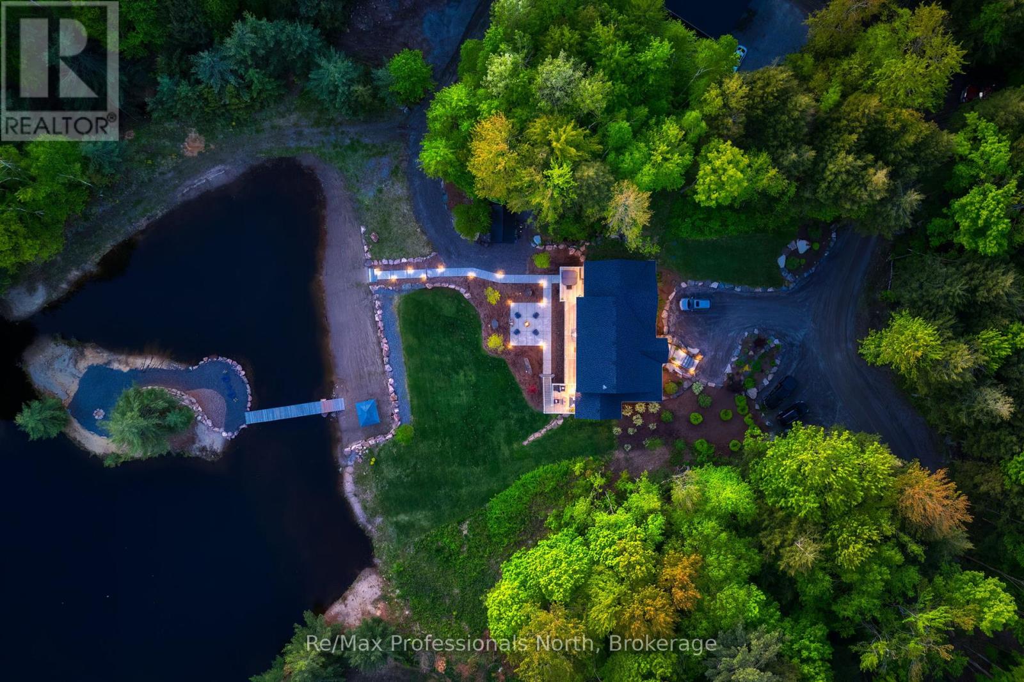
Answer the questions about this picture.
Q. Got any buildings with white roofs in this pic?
No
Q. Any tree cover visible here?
Yes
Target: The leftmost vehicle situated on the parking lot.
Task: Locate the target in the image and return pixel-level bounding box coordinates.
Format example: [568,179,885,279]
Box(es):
[679,297,711,312]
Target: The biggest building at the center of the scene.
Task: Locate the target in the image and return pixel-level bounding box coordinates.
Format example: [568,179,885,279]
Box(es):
[540,259,669,420]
